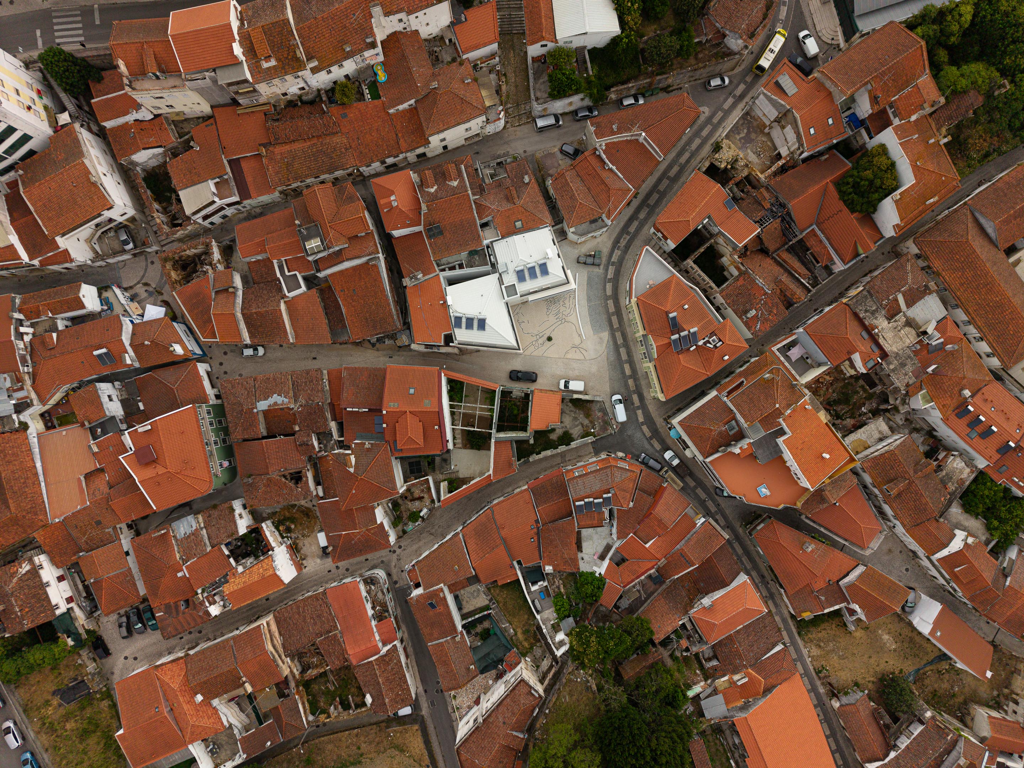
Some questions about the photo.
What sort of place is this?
residential area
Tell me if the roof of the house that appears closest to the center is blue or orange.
orange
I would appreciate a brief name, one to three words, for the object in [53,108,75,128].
umbrella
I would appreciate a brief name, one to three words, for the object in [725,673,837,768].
building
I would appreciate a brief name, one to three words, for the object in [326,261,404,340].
house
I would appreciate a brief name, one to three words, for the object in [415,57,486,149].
house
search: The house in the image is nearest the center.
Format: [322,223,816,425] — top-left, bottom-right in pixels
[530,388,562,431]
